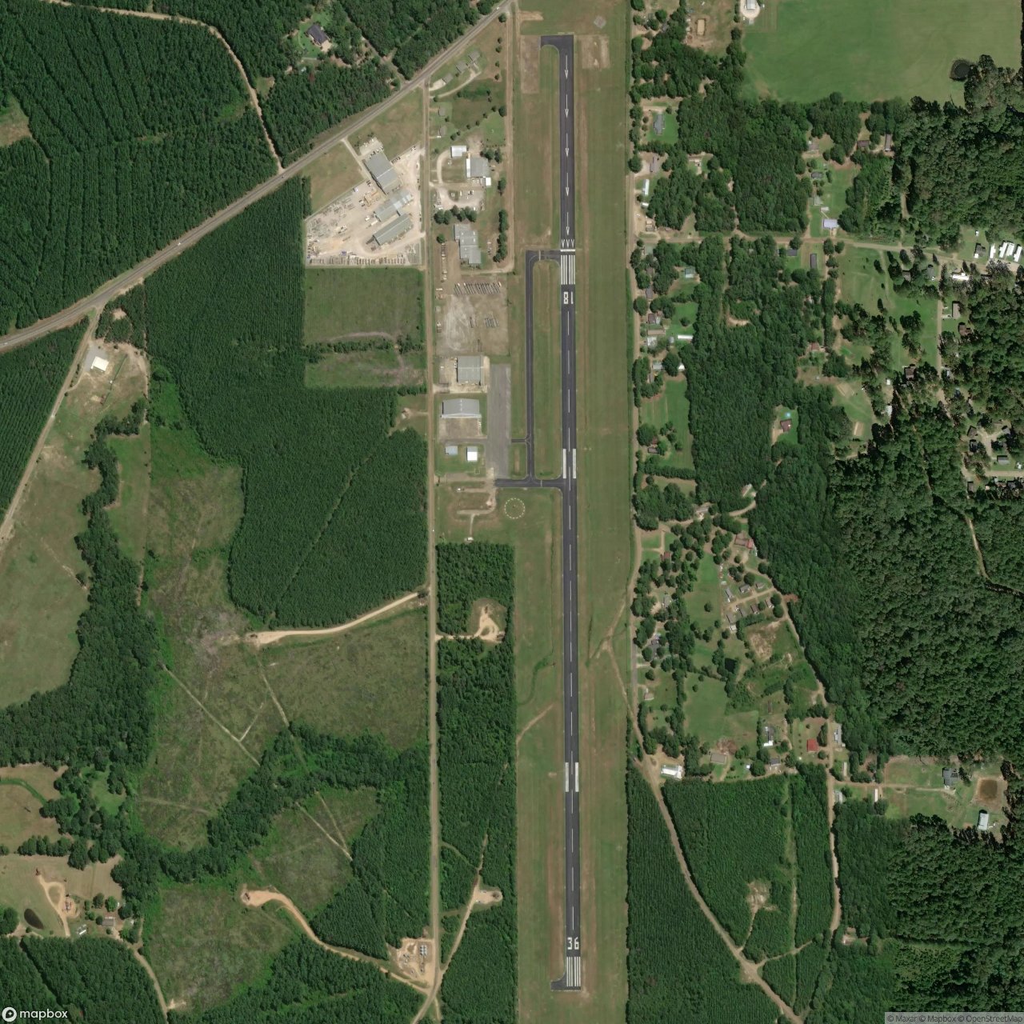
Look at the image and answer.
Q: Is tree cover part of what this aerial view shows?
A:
Yes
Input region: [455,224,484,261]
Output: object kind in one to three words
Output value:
building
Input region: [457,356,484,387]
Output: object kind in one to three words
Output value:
hangar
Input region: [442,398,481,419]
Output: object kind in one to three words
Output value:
hangar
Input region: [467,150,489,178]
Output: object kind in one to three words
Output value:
building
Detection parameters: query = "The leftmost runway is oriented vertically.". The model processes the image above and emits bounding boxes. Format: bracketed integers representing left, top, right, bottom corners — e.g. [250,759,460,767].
[541,35,581,990]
